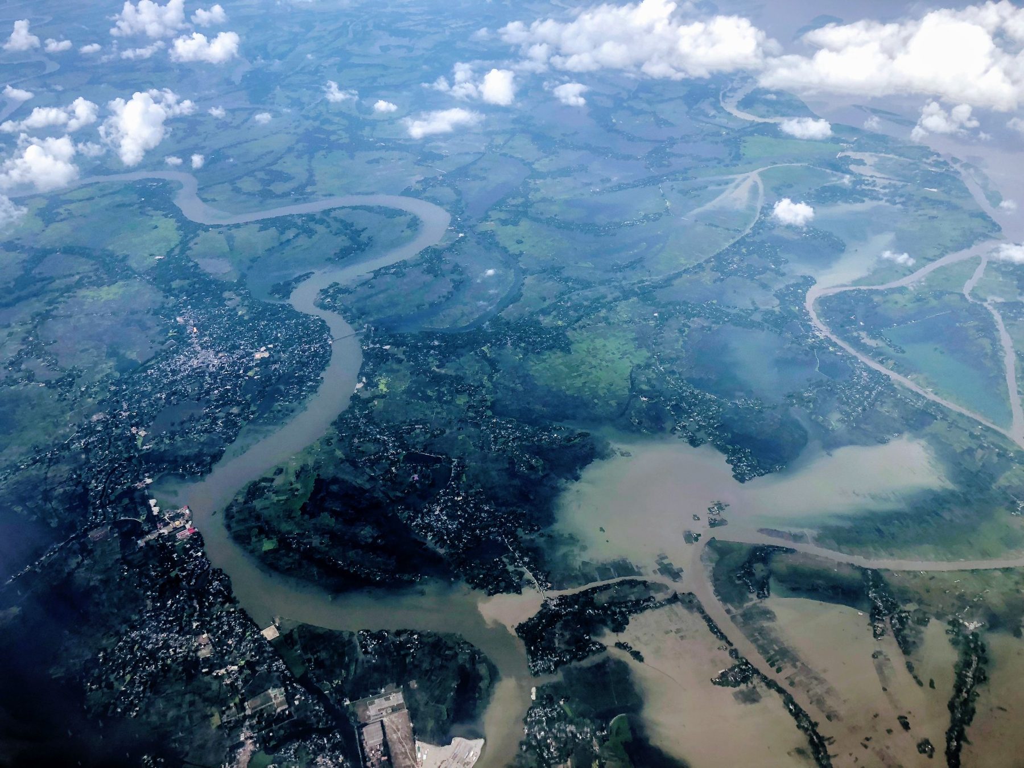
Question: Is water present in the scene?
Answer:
Yes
